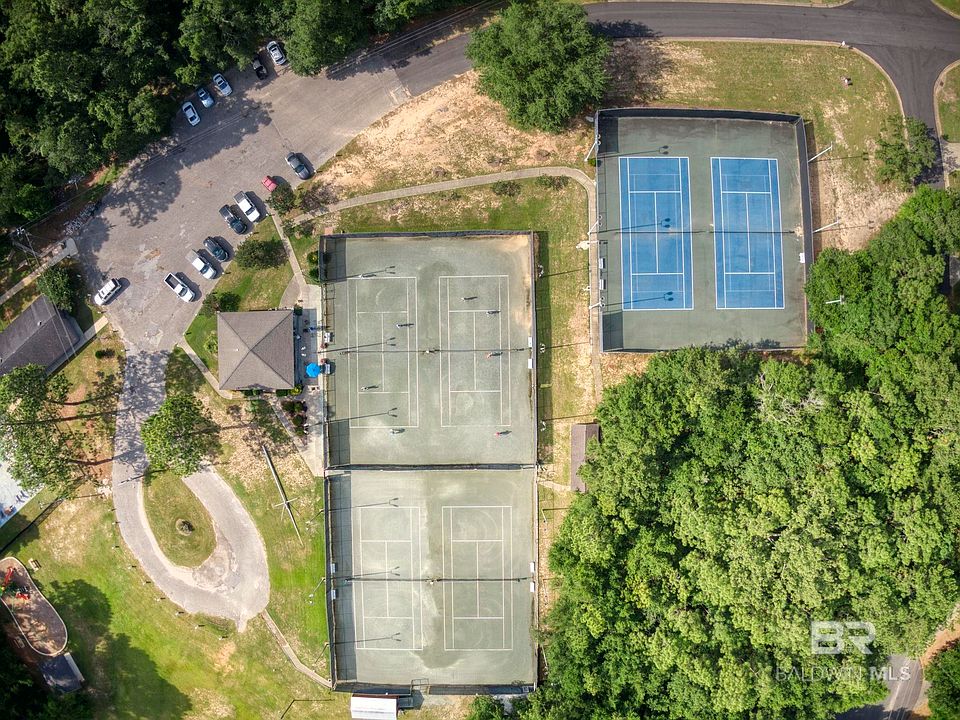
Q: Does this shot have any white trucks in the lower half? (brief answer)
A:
No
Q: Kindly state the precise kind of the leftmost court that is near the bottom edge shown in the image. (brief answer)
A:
tennis court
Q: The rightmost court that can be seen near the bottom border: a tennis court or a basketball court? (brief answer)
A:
tennis court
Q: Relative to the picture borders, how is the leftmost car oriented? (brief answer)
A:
diagonally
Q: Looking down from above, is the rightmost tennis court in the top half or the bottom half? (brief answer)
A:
top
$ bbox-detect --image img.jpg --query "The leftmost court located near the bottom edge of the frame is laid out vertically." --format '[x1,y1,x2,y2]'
[329,469,437,684]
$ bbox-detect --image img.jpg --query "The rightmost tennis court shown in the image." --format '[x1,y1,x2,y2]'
[699,116,807,351]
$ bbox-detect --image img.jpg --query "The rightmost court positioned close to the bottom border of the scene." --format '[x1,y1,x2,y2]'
[431,467,536,686]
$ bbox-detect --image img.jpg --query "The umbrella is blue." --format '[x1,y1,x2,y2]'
[307,363,322,377]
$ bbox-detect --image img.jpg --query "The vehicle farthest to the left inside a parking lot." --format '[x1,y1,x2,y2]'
[90,276,121,305]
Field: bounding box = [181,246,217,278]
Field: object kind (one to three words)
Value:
truck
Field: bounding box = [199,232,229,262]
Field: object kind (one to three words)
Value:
car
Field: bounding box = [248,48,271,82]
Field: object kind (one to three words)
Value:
truck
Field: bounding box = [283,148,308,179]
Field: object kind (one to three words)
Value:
car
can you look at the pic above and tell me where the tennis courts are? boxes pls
[429,234,536,467]
[431,467,536,686]
[699,116,807,351]
[594,115,705,352]
[329,469,437,684]
[325,235,431,468]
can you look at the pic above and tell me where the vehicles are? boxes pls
[159,269,194,304]
[194,81,215,110]
[177,97,200,128]
[283,148,308,179]
[199,232,229,262]
[231,187,260,224]
[90,276,121,305]
[248,48,271,82]
[264,38,287,68]
[215,200,247,235]
[209,68,232,98]
[181,246,217,278]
